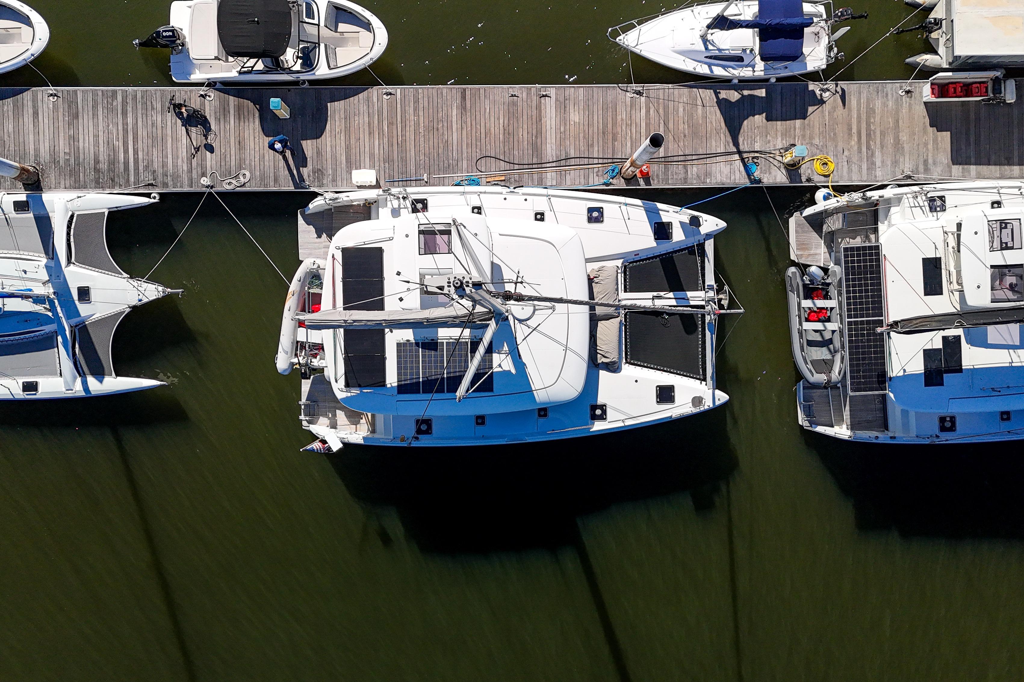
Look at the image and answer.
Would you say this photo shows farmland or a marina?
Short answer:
marina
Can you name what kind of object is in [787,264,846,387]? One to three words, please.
boat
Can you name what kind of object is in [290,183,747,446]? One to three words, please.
boat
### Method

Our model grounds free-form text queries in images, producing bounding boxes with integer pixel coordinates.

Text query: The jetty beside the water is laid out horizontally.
[0,78,1024,192]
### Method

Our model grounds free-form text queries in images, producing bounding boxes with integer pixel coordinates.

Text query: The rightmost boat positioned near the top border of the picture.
[894,0,1024,73]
